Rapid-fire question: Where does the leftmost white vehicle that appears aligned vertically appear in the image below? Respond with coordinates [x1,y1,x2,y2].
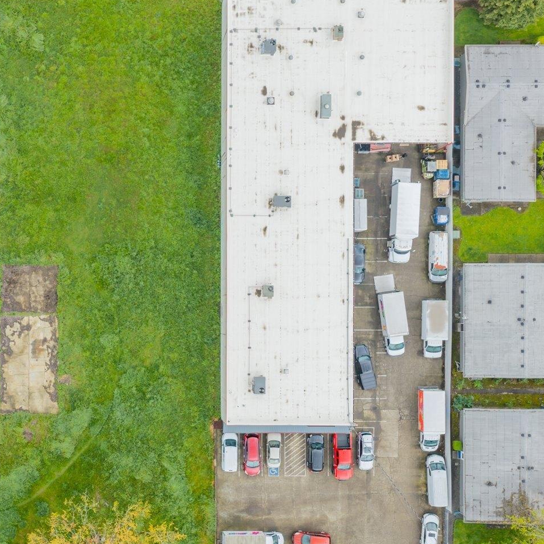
[220,432,241,474]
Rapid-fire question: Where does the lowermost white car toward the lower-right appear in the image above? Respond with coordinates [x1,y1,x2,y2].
[418,511,441,544]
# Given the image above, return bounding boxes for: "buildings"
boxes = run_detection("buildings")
[461,409,544,524]
[461,263,544,378]
[221,0,455,433]
[461,45,544,202]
